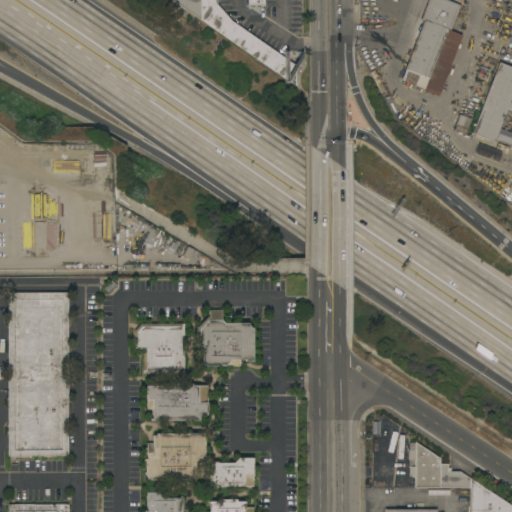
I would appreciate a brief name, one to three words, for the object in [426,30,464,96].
shed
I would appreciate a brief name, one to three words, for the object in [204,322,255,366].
building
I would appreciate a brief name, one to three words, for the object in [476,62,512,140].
building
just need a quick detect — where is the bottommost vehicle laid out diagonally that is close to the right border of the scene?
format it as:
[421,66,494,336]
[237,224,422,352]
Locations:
[476,340,498,356]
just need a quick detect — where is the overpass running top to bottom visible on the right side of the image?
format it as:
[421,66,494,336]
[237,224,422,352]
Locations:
[306,142,354,294]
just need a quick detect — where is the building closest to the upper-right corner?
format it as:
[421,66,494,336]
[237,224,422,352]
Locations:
[424,0,464,29]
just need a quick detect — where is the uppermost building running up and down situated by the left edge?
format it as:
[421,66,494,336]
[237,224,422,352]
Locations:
[8,292,70,458]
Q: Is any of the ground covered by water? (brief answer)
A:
No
